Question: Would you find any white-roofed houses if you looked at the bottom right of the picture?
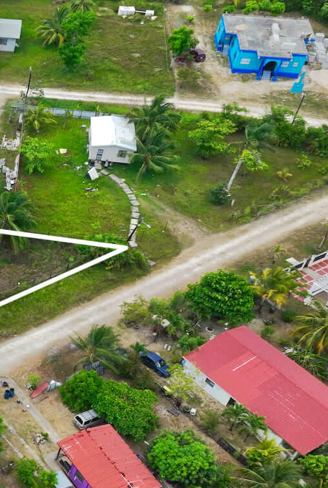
No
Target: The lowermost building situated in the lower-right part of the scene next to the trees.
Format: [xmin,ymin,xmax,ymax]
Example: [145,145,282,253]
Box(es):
[182,326,328,466]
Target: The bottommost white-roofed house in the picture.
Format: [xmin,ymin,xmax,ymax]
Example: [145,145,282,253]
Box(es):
[86,115,136,168]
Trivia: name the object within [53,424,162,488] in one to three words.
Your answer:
house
